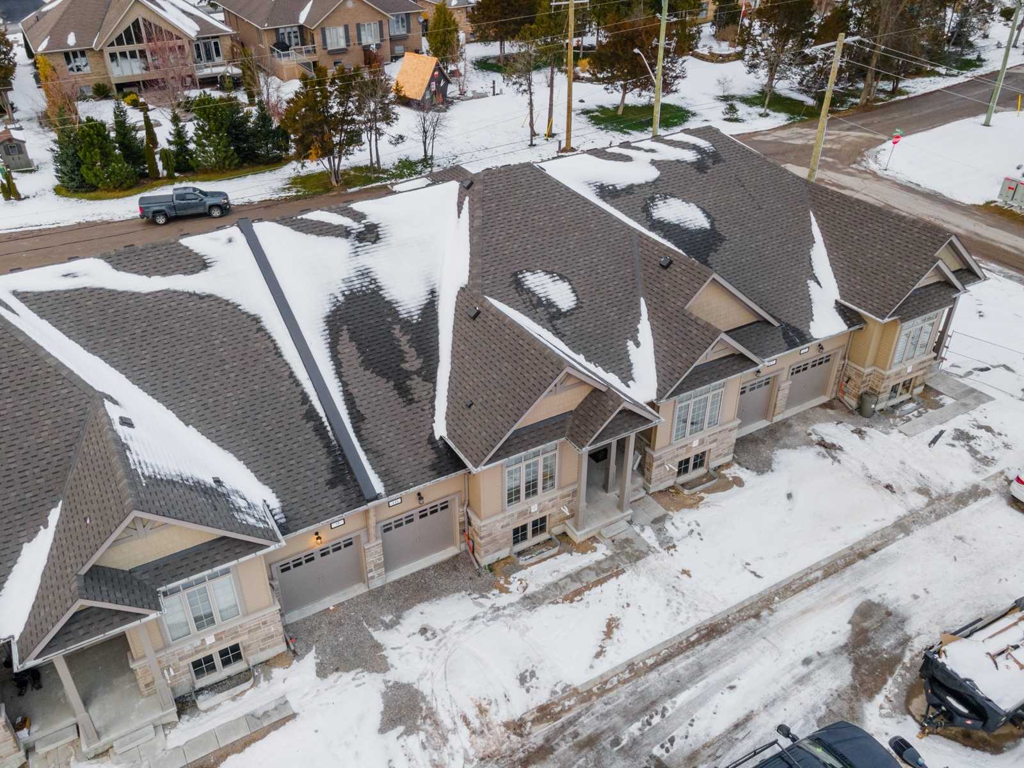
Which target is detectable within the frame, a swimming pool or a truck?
truck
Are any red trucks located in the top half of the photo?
No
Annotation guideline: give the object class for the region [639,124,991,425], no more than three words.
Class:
house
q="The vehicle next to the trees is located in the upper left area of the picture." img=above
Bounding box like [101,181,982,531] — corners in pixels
[137,183,230,222]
